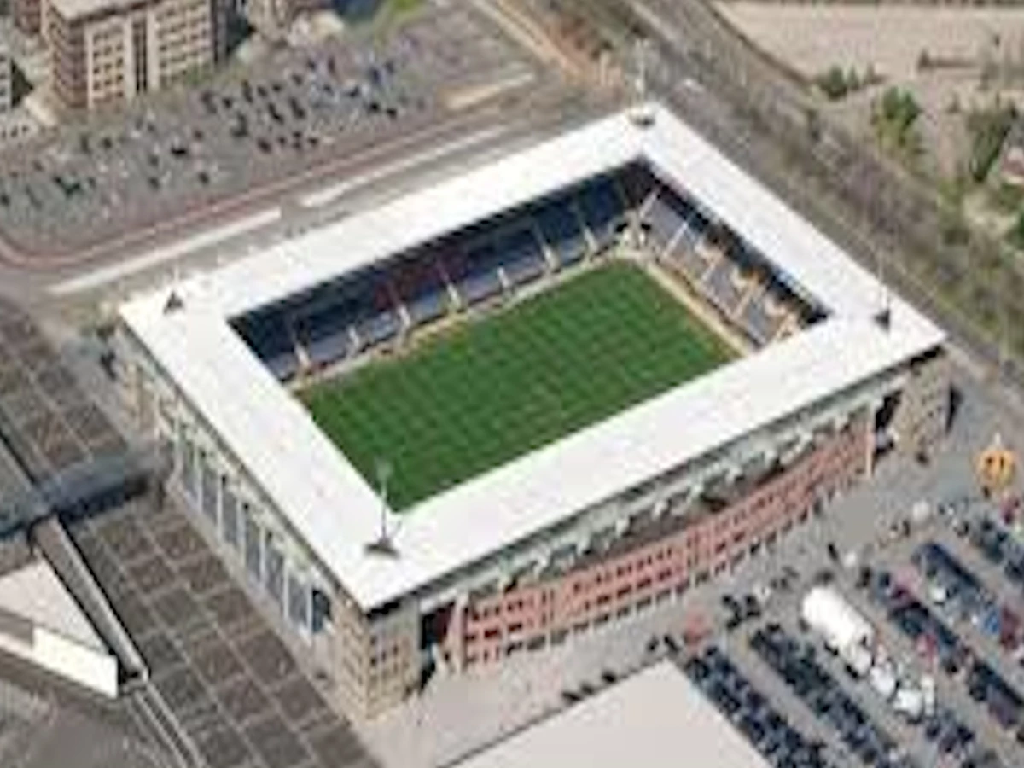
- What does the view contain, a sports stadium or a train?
sports stadium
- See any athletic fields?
Yes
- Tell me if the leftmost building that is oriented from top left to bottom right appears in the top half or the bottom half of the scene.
bottom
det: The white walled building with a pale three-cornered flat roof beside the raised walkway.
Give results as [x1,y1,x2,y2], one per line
[0,547,117,692]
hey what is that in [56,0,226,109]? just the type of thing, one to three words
building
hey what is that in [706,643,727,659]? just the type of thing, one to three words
car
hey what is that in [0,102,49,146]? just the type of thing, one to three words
building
